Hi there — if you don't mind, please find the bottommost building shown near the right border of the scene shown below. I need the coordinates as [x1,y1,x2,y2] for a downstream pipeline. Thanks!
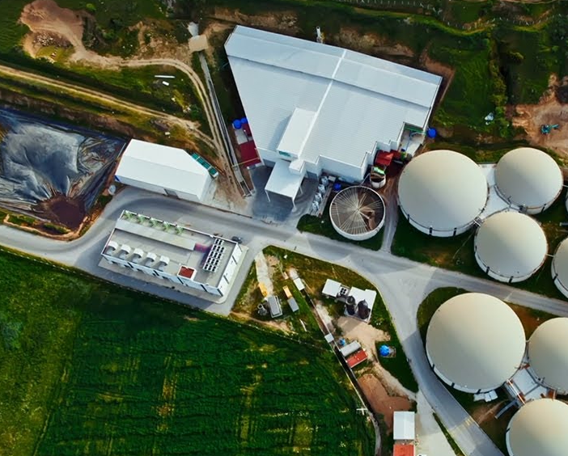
[494,363,555,419]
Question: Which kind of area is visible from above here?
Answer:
industrial area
